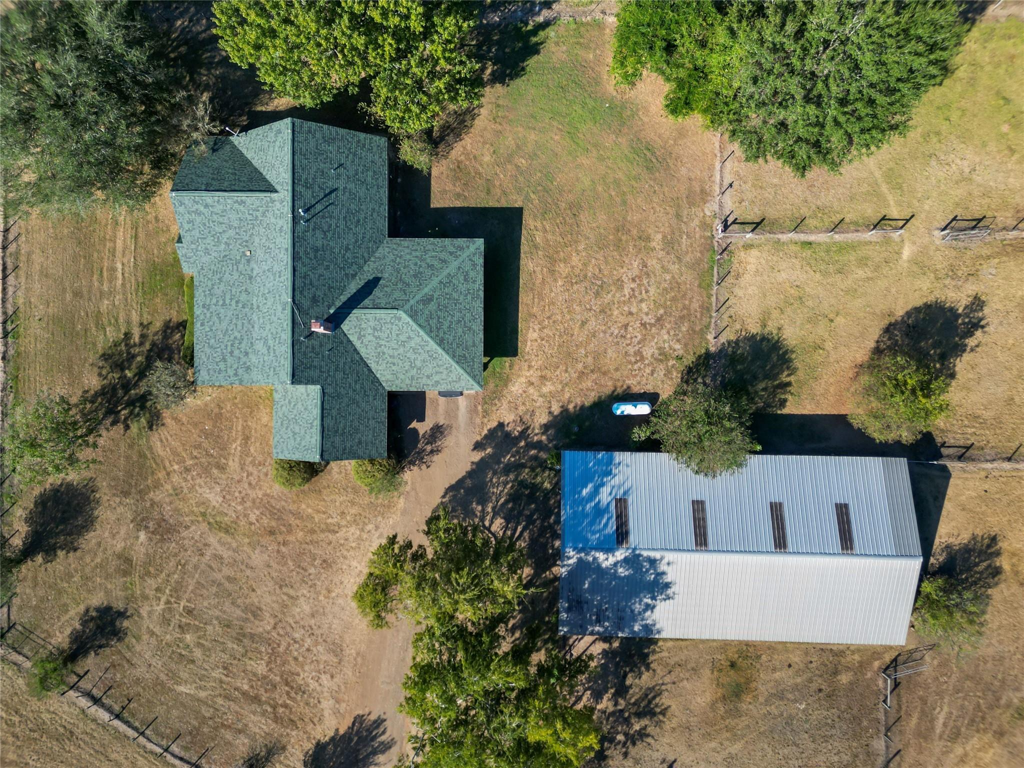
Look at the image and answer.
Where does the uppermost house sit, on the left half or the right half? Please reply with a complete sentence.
The uppermost house is on the left side of the image.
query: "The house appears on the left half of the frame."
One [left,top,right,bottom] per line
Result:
[171,118,485,462]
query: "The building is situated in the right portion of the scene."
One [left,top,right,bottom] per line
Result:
[556,450,924,644]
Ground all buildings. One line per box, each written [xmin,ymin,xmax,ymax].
[171,118,485,462]
[556,450,924,644]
